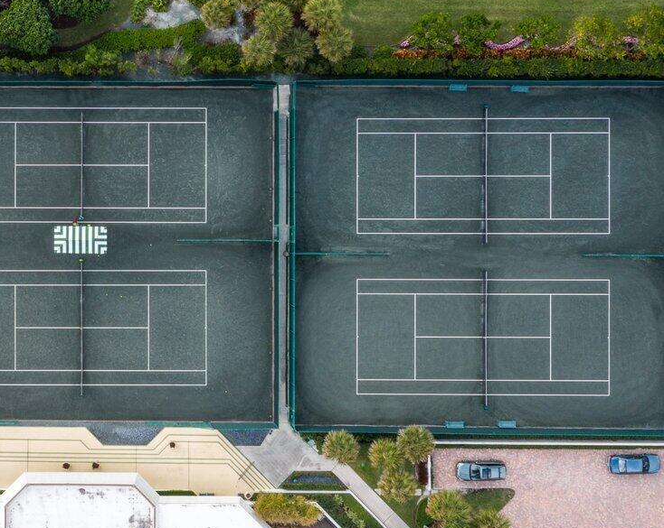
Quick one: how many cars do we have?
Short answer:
2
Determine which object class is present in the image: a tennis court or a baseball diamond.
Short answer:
tennis court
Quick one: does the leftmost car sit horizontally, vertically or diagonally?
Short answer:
horizontally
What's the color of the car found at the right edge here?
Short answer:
blue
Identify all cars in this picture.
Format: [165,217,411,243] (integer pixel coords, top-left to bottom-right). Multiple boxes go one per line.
[454,459,507,485]
[605,452,658,477]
